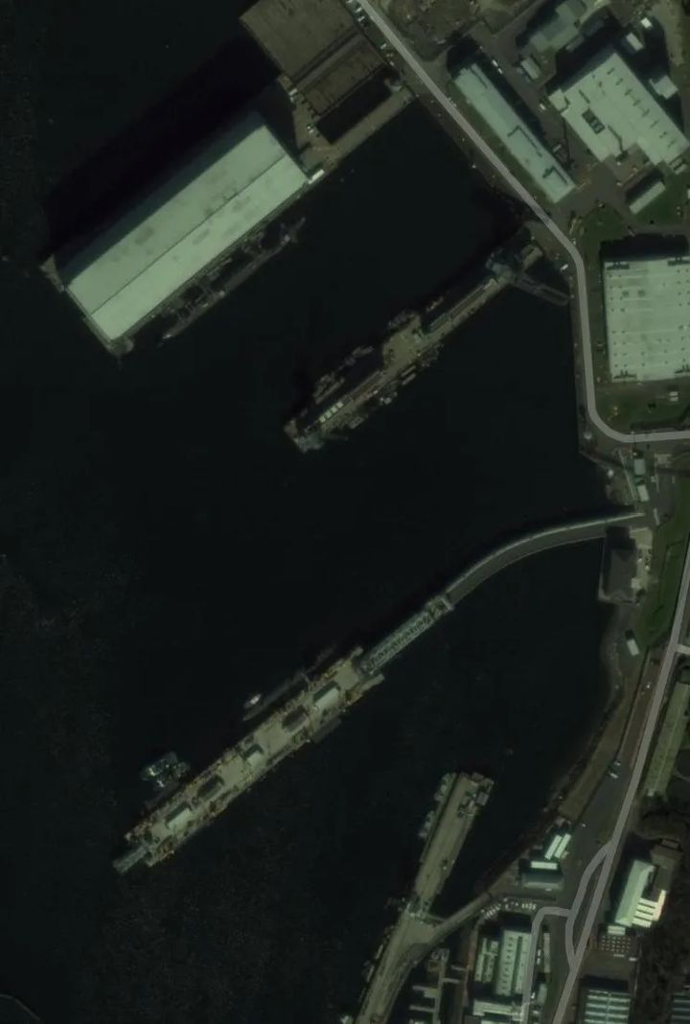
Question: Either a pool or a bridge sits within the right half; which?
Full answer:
Looking within the right half, you will find a bridge.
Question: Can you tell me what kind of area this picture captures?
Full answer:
The area seen from above is a port.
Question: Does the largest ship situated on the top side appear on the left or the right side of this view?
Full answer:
The largest ship situated on the top side is on the left side of the image.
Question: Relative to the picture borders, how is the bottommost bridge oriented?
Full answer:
The bottommost bridge is laid out diagonally.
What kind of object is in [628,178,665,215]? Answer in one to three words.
shed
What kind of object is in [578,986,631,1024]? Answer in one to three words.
building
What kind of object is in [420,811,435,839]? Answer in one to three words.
boat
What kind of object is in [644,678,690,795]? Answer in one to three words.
house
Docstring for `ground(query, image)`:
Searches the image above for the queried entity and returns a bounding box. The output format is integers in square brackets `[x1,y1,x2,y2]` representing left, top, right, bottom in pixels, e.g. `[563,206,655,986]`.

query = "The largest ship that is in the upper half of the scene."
[165,215,306,336]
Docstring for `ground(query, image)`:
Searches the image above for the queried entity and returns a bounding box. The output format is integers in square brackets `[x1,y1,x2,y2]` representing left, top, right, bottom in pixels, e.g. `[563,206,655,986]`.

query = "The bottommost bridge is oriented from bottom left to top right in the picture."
[360,609,439,677]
